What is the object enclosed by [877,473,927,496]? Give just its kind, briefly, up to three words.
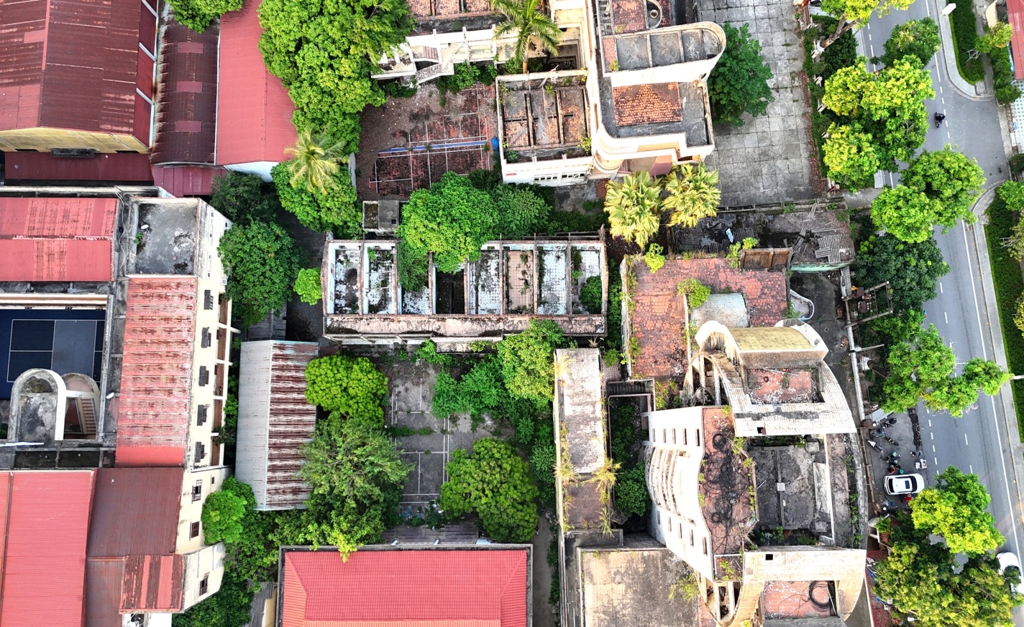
car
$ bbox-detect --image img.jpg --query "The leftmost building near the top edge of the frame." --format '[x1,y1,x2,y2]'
[0,0,165,188]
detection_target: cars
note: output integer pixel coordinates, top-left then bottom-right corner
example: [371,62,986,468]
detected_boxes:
[994,555,1024,605]
[877,473,927,496]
